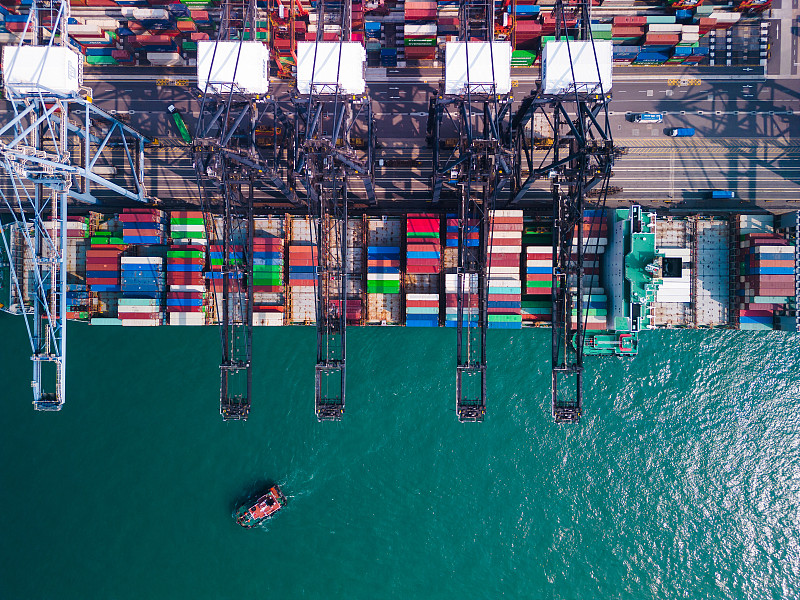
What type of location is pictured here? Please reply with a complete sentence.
The picture captures a port.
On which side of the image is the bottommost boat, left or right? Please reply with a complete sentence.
The bottommost boat sits on the left side.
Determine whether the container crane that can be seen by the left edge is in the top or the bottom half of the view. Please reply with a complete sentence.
The top half of the photo is where the container crane that can be seen by the left edge is.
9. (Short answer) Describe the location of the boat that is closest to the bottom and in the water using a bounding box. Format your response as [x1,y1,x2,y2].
[237,485,288,524]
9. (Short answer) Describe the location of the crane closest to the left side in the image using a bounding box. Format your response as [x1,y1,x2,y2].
[0,0,170,415]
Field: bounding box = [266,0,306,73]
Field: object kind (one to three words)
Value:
container crane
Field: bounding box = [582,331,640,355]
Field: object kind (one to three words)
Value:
vessel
